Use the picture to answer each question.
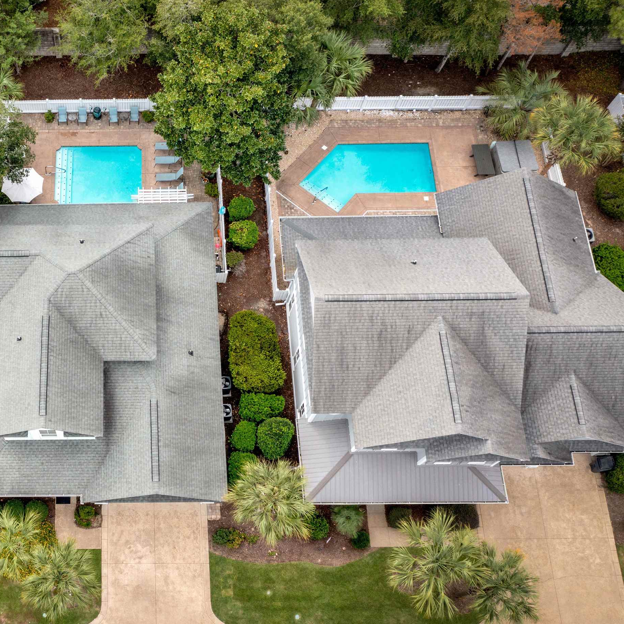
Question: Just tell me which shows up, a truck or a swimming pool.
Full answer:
The image shows a swimming pool.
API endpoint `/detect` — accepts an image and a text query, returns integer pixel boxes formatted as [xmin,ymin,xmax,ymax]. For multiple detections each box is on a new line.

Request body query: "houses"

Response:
[278,172,624,507]
[0,202,228,507]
